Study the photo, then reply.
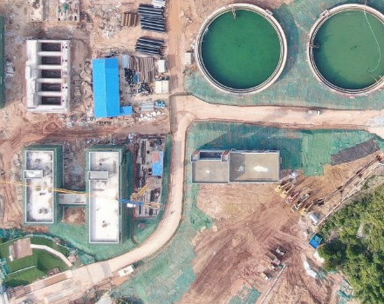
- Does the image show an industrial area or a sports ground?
industrial area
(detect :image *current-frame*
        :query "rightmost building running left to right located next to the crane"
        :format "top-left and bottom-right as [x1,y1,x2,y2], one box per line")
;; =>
[191,148,280,183]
